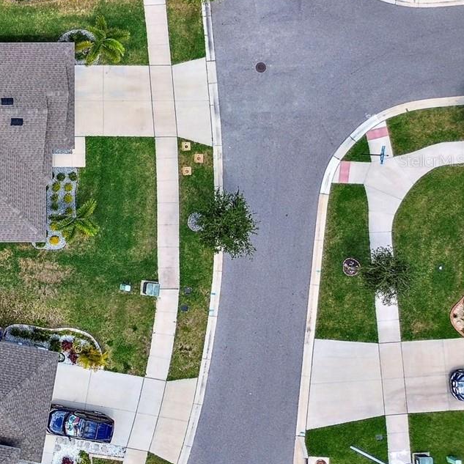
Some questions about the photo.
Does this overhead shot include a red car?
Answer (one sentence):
No, I find no red car anywhere in the image.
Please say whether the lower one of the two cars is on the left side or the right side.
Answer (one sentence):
The lower one of the two cars is on the left side of the image.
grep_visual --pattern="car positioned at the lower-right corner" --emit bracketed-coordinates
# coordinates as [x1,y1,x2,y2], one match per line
[447,371,464,400]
